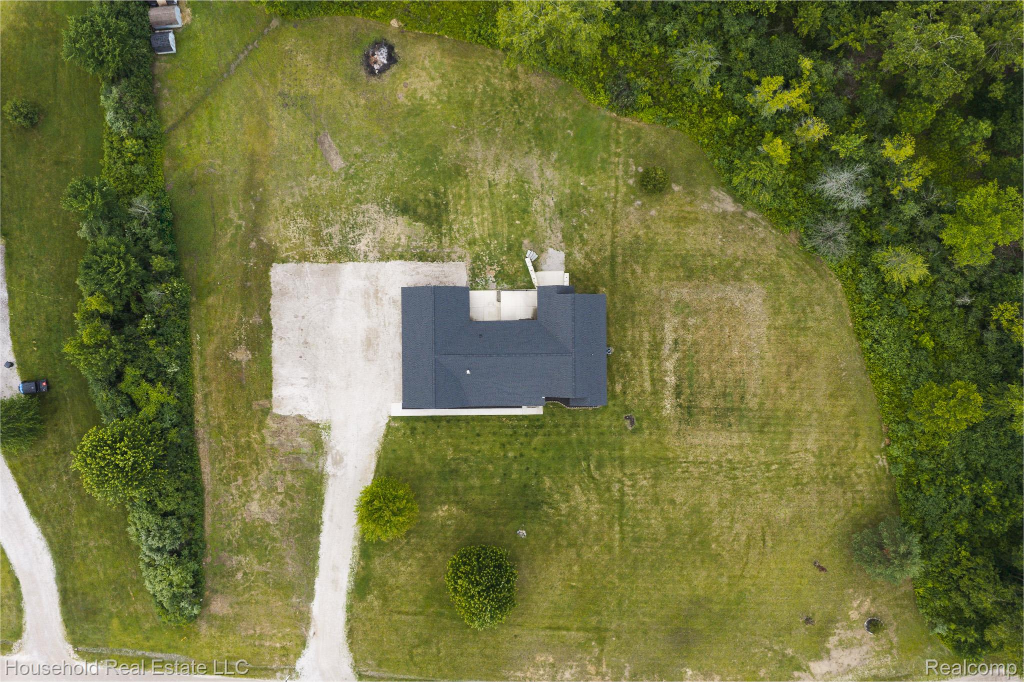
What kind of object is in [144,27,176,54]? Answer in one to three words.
shed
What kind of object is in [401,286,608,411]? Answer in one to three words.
house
